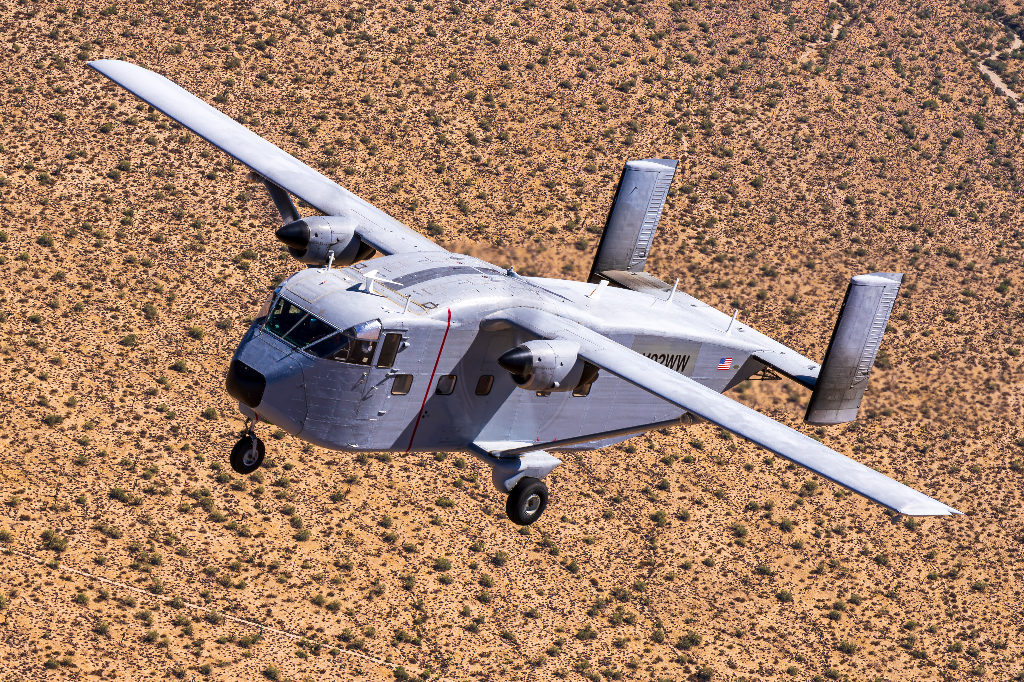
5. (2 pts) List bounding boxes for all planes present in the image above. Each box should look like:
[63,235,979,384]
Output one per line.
[87,58,971,528]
